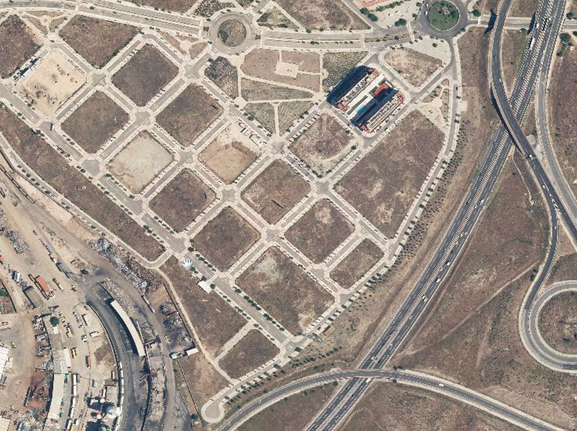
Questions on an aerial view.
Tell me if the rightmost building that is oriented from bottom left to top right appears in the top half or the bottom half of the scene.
top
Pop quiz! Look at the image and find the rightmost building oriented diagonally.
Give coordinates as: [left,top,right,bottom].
[361,94,405,137]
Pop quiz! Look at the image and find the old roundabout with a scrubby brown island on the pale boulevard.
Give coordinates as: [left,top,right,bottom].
[209,10,255,56]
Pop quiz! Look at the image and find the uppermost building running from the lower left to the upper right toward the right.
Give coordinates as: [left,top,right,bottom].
[336,70,379,113]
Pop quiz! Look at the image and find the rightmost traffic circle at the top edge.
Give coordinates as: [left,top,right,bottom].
[420,0,467,39]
